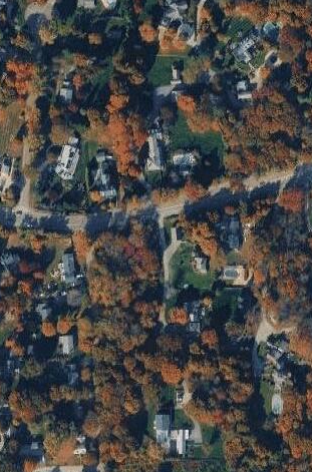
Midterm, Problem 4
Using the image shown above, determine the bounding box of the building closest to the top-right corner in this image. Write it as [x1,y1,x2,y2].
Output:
[232,33,261,63]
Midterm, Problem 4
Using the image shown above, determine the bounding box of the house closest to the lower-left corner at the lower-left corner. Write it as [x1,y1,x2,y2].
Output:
[20,442,45,463]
